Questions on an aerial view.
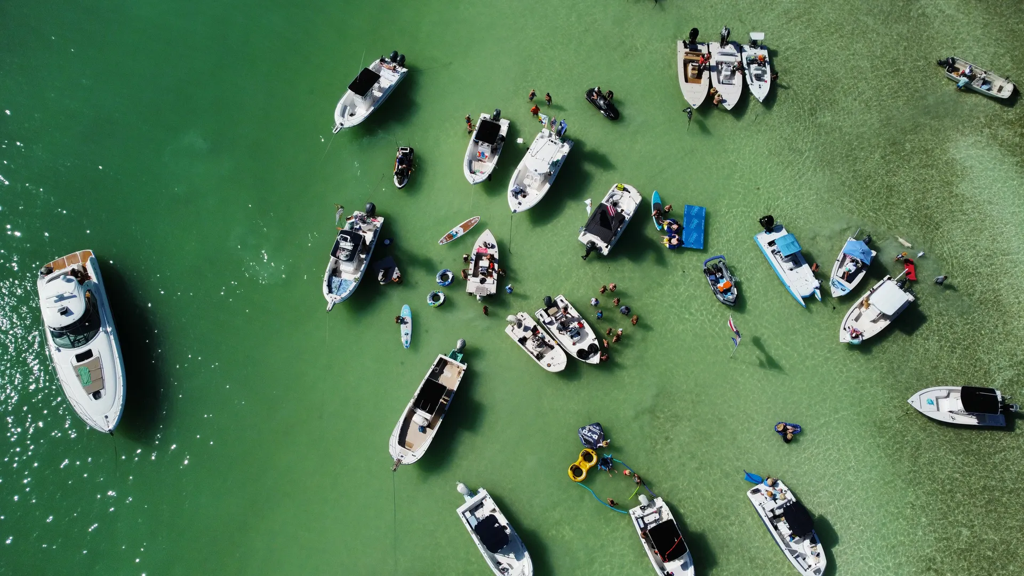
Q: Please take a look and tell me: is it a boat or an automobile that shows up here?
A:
boat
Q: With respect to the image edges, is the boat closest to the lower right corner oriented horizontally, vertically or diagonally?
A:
horizontally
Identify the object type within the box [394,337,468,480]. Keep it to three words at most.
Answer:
boat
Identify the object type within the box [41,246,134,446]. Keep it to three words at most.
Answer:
boat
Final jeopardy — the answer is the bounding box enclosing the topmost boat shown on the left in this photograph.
[337,52,433,133]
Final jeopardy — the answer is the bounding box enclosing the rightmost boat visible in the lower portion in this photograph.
[898,386,1022,427]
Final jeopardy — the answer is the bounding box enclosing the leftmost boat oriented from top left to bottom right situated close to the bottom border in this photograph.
[454,473,531,576]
